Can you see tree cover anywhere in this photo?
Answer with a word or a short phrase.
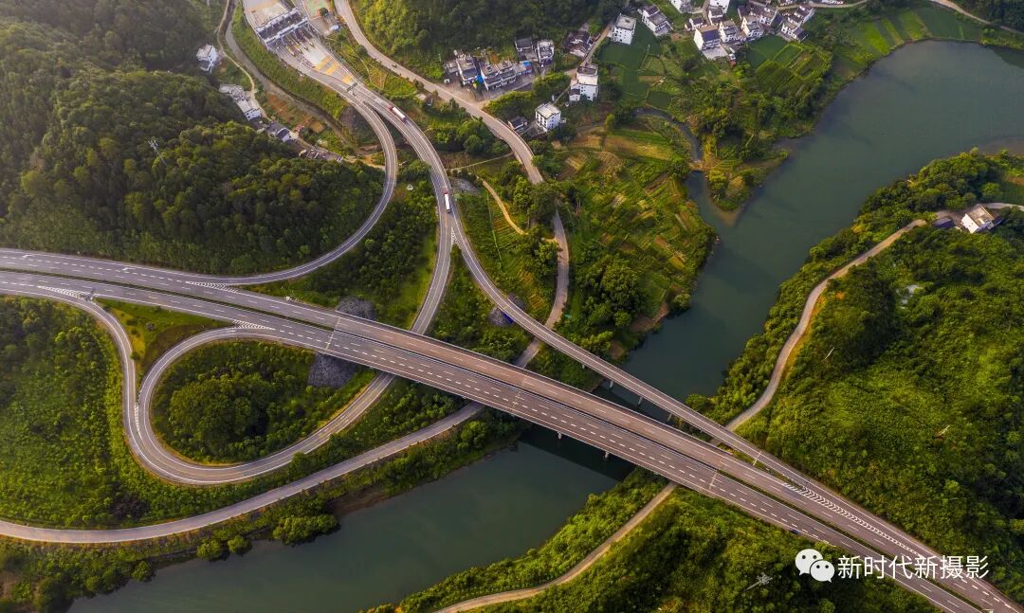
Yes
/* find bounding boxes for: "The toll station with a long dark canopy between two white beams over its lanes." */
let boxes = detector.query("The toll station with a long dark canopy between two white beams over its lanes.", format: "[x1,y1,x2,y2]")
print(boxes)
[256,8,314,54]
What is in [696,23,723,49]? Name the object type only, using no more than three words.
house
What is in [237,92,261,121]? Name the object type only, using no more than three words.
house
